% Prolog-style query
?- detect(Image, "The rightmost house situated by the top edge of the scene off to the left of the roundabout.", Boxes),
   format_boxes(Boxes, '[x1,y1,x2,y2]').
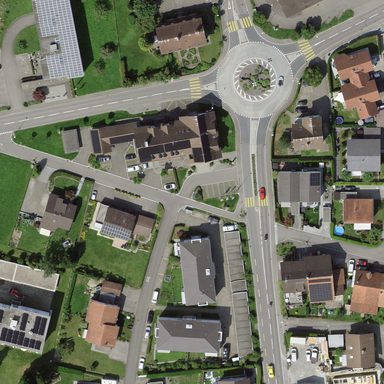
[154,16,206,54]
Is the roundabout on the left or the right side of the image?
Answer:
right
